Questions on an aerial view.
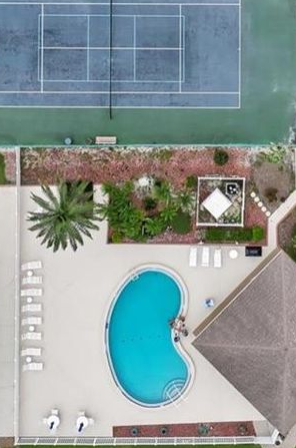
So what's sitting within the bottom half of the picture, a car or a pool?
pool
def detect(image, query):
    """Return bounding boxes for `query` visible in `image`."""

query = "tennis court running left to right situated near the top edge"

[0,0,241,118]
